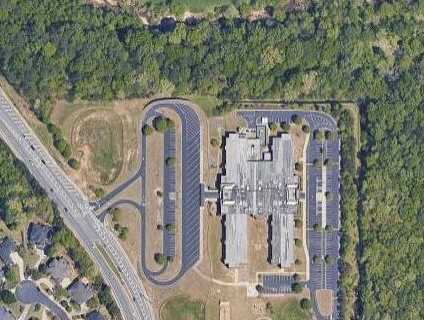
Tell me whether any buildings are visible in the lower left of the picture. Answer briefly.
Yes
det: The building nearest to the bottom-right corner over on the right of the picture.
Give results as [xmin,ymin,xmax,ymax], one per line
[221,124,299,268]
